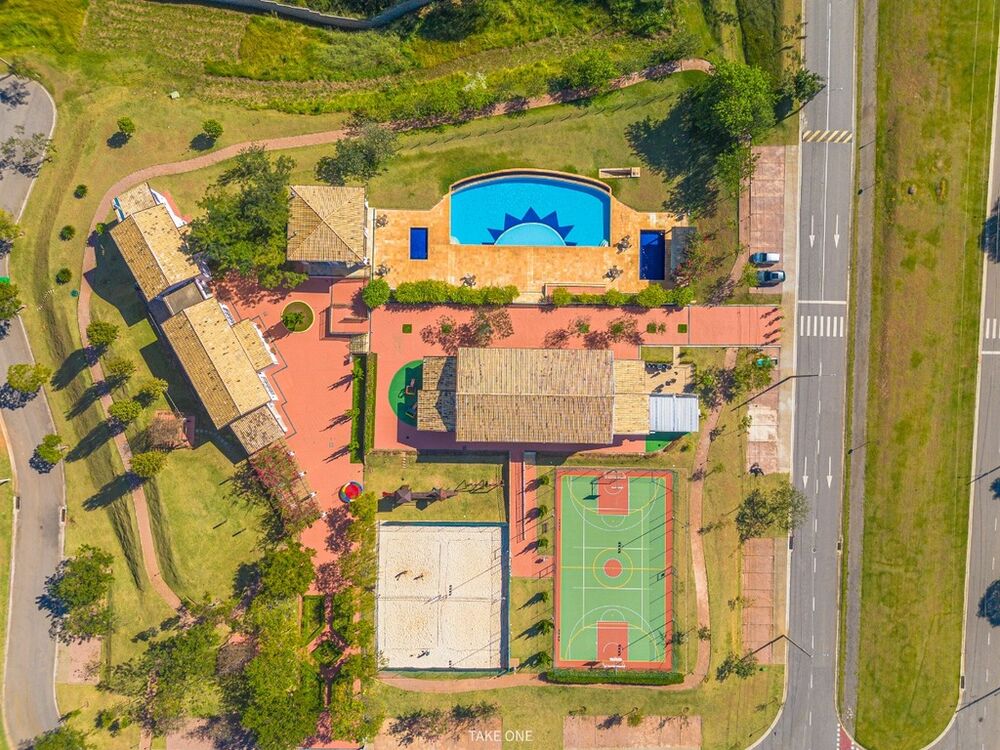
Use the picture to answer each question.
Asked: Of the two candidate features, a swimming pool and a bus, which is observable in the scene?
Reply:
swimming pool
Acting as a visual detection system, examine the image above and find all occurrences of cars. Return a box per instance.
[757,270,787,284]
[753,249,782,265]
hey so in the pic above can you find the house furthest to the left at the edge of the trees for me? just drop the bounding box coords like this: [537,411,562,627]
[108,183,292,455]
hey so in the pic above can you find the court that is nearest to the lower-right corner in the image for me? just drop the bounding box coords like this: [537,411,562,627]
[554,470,674,670]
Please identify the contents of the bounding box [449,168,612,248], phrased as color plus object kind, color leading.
blue swimming pool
